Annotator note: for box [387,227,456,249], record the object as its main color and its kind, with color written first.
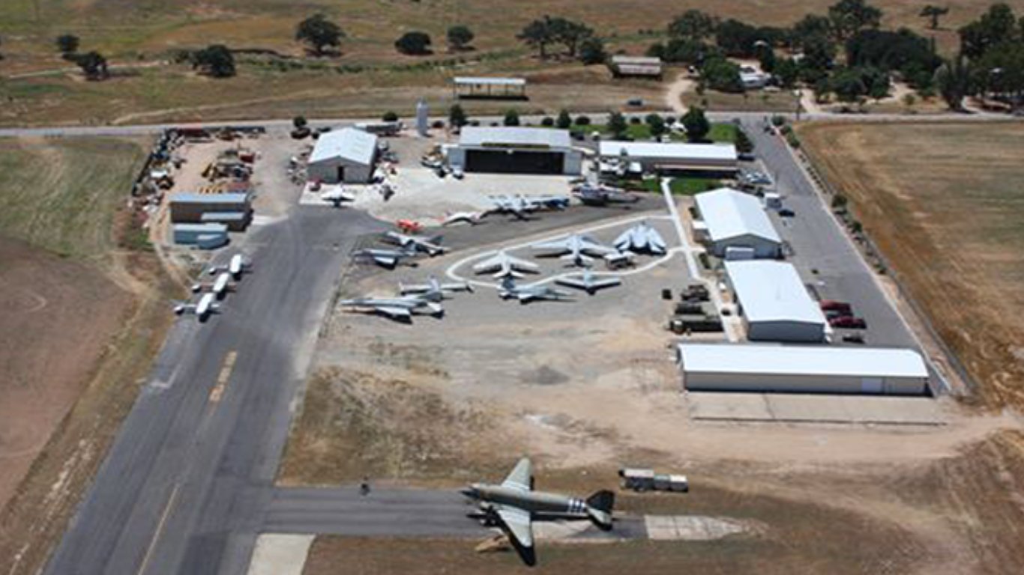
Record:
gray airplane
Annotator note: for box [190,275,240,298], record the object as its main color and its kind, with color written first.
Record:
white airplane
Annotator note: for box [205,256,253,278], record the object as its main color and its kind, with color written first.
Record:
white airplane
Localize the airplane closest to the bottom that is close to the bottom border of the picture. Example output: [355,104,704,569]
[459,457,613,550]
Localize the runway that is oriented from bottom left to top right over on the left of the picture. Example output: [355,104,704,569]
[46,205,384,575]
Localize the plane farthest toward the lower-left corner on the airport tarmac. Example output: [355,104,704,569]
[172,295,224,319]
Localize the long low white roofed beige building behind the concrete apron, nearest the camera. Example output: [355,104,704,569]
[677,343,934,397]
